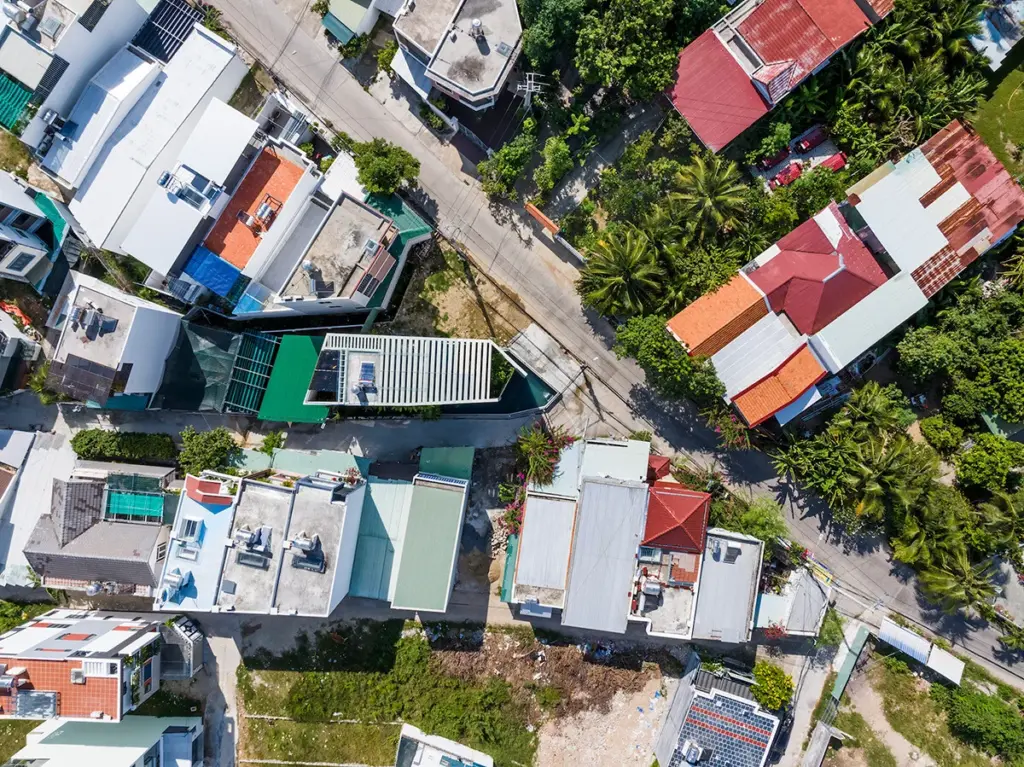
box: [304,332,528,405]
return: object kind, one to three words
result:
house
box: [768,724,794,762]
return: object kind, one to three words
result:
car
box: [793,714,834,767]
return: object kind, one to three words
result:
shed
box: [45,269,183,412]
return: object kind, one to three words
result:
house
